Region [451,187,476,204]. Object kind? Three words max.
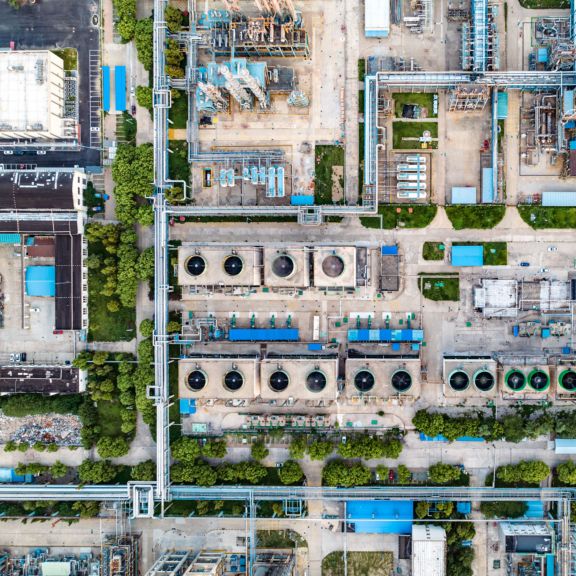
shed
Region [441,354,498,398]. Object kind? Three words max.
cooling tower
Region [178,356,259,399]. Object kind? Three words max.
cooling tower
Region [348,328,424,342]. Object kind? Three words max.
building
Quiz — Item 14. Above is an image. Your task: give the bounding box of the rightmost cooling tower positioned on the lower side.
[550,361,576,394]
